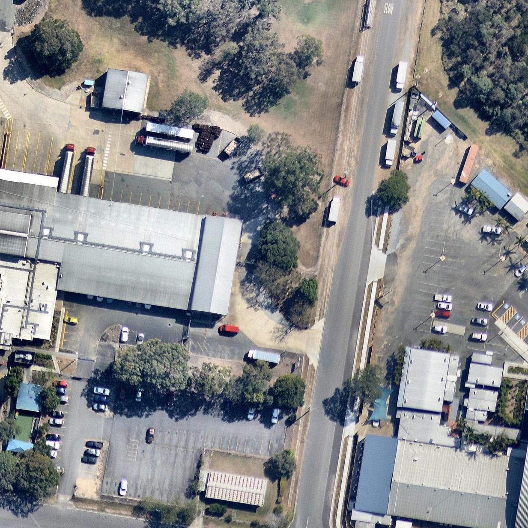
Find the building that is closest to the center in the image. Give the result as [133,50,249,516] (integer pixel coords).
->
[191,216,242,318]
